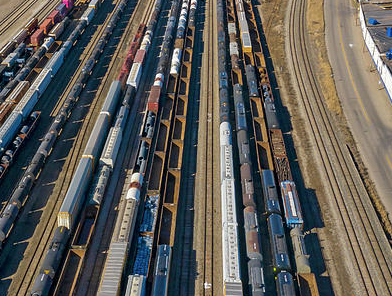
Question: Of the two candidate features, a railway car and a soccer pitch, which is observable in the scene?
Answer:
railway car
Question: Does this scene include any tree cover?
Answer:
No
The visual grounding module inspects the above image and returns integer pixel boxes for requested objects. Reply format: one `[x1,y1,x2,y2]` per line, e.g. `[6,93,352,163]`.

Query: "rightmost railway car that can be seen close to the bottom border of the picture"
[290,228,316,285]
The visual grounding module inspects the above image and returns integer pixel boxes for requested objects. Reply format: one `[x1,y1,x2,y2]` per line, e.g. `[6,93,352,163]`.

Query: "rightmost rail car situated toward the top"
[264,99,280,134]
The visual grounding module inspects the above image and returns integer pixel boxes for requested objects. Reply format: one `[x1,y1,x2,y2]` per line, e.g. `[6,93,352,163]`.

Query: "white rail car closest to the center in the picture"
[219,123,231,148]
